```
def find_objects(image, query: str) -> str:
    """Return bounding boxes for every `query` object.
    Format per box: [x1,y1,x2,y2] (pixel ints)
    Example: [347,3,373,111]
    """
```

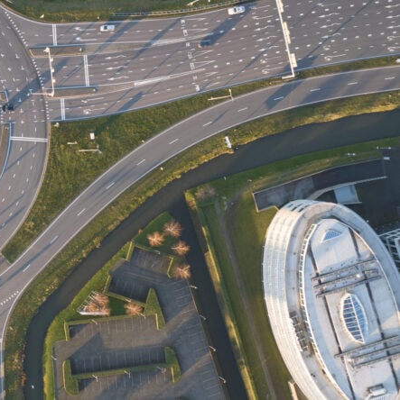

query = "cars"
[1,104,16,111]
[101,24,116,31]
[230,5,247,13]
[199,39,214,46]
